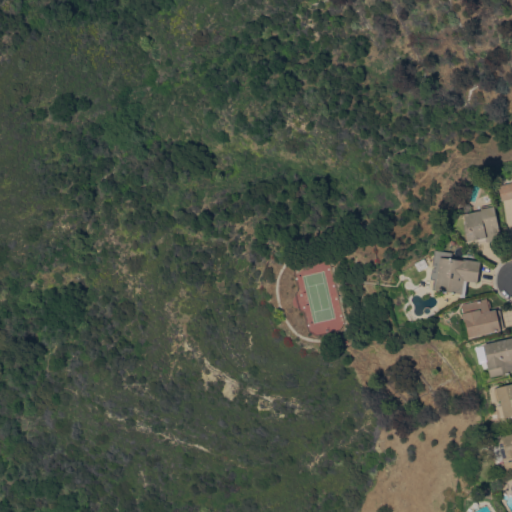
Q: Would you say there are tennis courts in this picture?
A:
Yes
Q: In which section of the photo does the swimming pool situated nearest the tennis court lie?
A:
right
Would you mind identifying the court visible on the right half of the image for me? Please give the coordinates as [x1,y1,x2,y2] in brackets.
[294,262,344,335]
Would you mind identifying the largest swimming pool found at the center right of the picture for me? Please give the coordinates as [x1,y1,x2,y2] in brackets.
[412,295,437,316]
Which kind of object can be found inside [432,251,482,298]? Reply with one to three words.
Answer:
house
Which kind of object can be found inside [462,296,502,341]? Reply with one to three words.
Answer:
house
